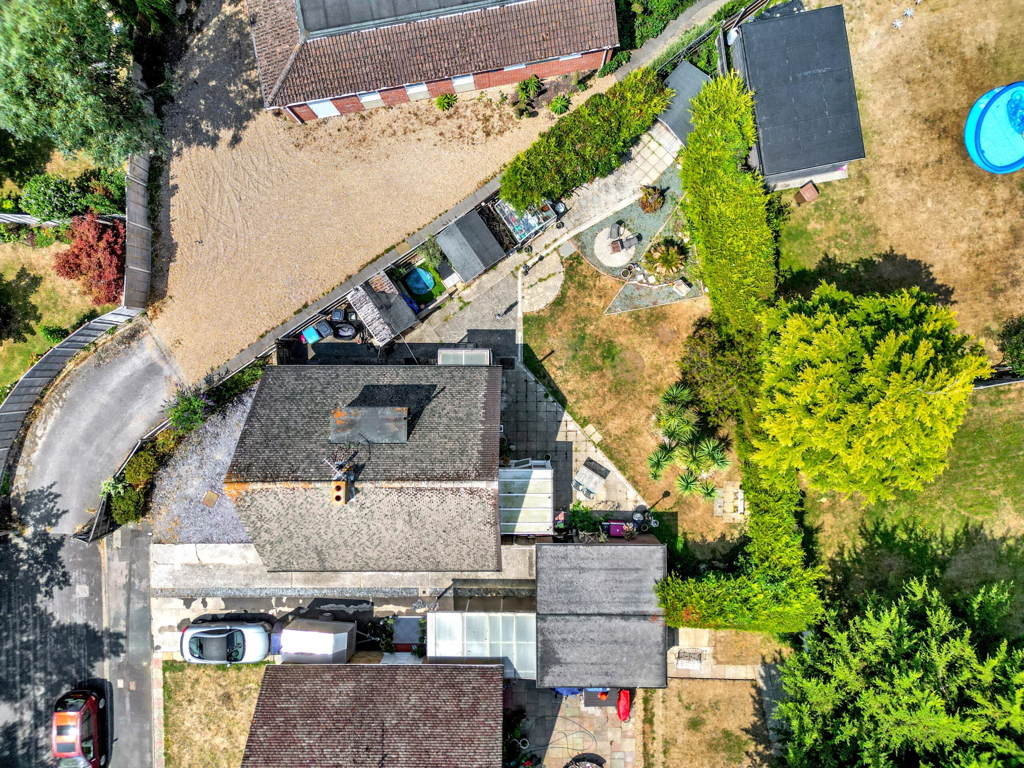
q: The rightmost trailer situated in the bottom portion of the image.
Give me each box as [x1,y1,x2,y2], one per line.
[282,609,379,662]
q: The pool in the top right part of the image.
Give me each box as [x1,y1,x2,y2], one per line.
[965,80,1024,173]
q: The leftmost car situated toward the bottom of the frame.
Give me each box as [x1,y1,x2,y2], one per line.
[182,617,275,671]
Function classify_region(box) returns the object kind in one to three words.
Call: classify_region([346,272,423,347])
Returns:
shed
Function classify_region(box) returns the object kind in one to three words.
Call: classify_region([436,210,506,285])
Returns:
shed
